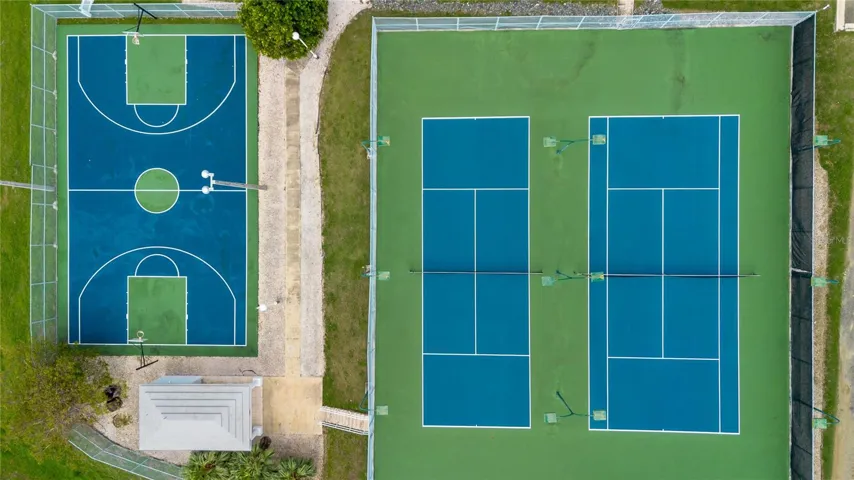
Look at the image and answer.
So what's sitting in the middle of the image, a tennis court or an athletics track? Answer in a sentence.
Looking in the middle of the image, you will find a tennis court.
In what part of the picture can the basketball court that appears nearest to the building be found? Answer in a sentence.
You can find the basketball court that appears nearest to the building in the left area of the picture.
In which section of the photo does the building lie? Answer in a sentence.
The building appears toward the bottom left of the photo.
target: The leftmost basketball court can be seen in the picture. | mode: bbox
[57,23,259,357]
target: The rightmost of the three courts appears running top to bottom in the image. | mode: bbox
[589,114,740,435]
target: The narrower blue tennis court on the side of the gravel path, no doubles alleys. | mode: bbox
[422,116,531,430]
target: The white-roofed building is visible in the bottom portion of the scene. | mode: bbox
[139,375,262,450]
